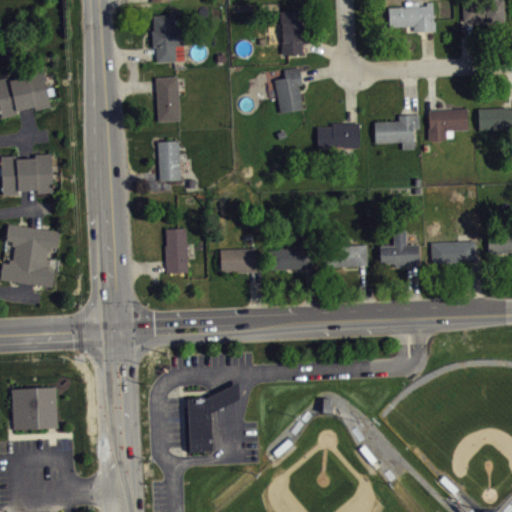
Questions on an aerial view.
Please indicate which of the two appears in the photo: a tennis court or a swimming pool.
swimming pool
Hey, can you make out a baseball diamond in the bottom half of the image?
Yes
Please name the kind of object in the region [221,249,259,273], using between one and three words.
house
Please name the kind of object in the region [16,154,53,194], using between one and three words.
house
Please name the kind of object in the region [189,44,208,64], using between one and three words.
swimming pool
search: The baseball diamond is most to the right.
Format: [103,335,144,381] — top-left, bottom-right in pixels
[384,366,512,510]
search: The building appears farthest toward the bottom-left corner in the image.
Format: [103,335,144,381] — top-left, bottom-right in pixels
[12,388,58,431]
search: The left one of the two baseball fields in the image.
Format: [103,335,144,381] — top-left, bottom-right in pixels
[262,430,384,512]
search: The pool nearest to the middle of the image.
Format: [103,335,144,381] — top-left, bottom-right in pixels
[236,94,254,116]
